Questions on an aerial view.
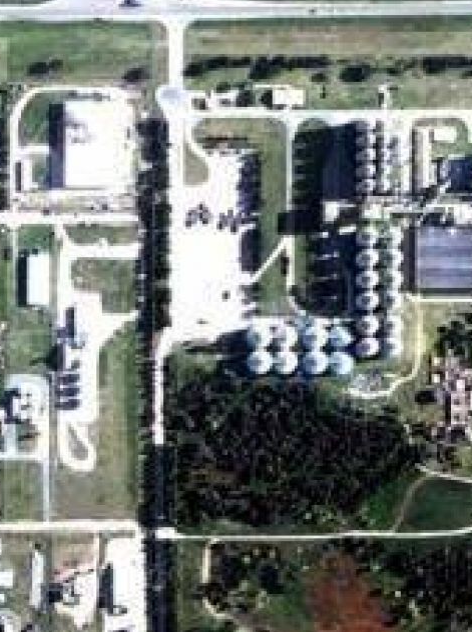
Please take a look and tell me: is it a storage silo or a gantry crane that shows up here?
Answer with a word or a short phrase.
storage silo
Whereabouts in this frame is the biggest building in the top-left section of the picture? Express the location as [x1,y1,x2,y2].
[64,101,136,188]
